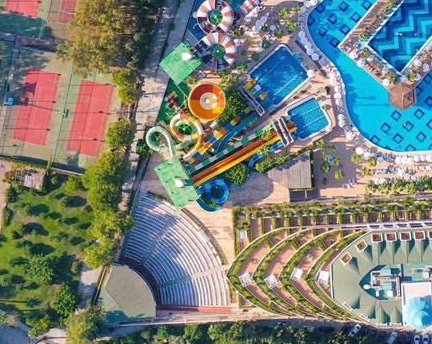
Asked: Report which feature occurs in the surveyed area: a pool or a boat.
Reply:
pool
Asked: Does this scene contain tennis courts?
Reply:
Yes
